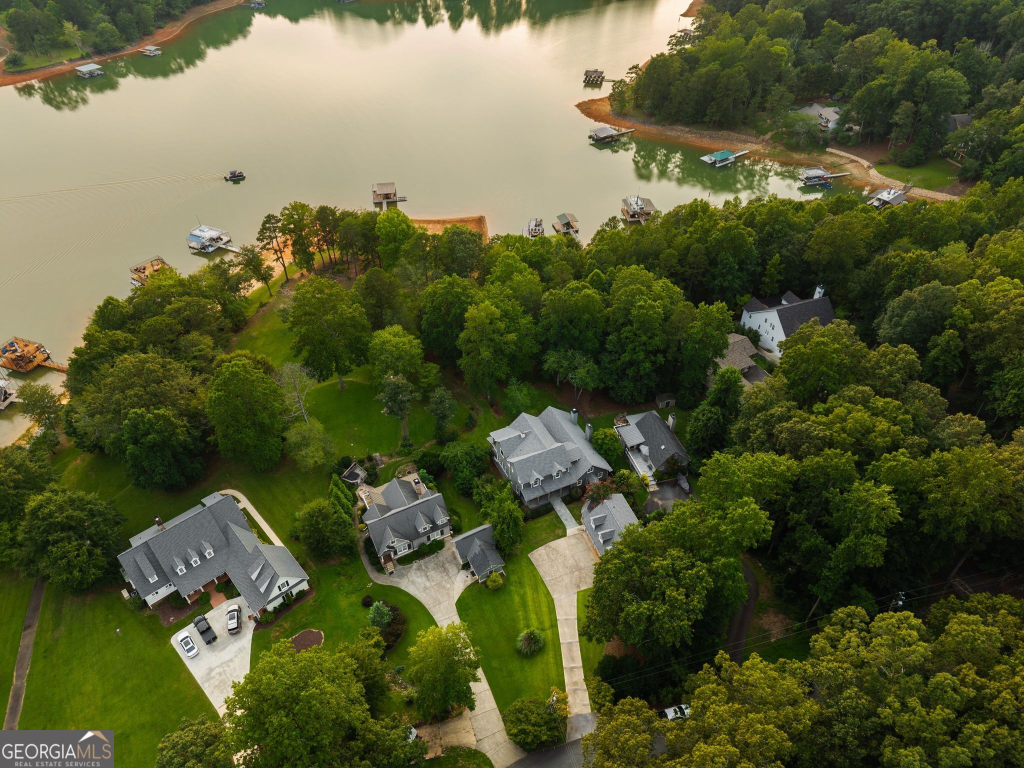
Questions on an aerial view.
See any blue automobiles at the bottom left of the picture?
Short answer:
No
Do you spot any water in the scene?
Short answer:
Yes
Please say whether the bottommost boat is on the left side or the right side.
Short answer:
right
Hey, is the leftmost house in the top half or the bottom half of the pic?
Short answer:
bottom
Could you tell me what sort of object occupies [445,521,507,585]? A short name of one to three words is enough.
building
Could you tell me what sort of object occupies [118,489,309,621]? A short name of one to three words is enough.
house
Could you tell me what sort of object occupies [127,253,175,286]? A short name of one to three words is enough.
pier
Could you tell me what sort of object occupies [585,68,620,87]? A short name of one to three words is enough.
pier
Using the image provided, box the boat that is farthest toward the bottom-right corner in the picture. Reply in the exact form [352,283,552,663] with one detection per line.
[672,470,692,501]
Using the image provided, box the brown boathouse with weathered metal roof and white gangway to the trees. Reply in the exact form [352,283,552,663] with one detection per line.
[371,180,408,204]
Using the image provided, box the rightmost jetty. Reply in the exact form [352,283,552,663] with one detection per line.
[866,184,914,212]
